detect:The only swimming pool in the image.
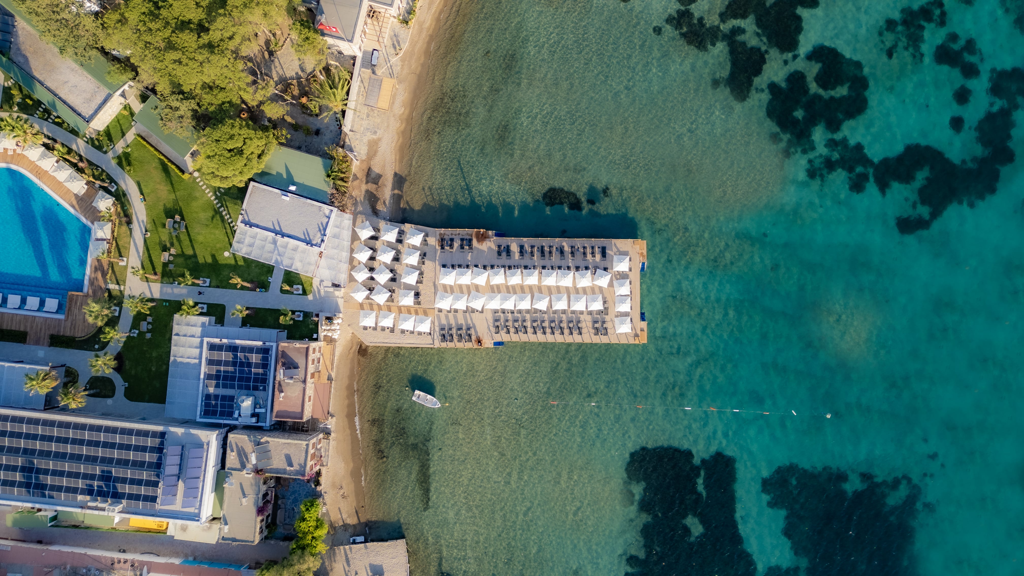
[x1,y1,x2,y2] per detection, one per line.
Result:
[0,163,94,320]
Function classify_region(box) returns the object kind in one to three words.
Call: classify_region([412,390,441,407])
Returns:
boat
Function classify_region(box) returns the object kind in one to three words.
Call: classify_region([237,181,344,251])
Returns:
building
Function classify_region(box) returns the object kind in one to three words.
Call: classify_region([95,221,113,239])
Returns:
umbrella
